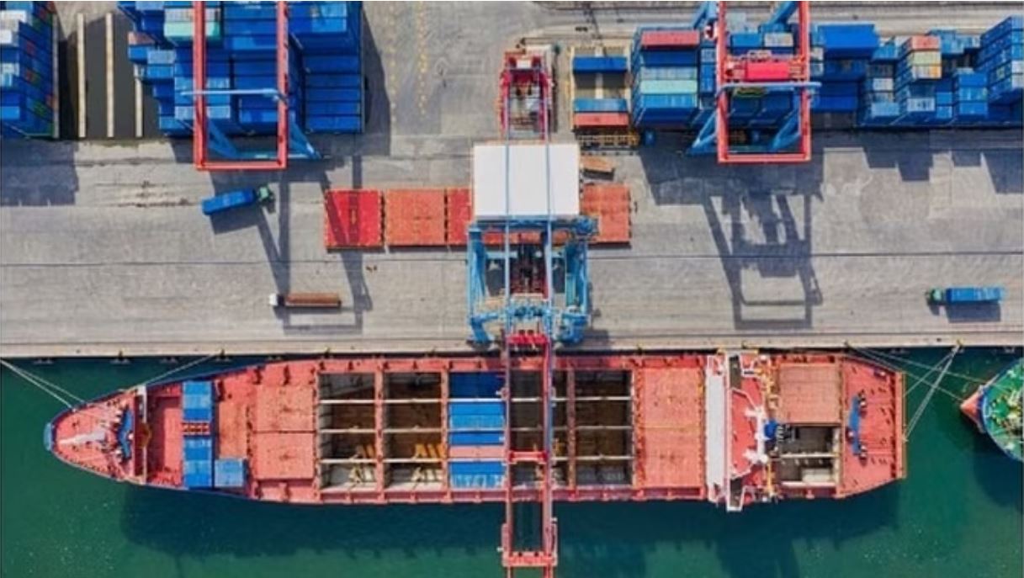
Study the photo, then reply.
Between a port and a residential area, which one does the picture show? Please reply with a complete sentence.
This looks like a port.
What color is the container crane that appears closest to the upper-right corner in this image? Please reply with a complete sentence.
The color of the container crane that appears closest to the upper-right corner is red.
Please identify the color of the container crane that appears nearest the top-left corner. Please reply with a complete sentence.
The color of the container crane that appears nearest the top-left corner is red.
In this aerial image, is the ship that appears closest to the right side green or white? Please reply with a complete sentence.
The ship that appears closest to the right side is green.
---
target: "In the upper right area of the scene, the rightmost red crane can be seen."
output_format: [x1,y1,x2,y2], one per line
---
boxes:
[678,0,821,167]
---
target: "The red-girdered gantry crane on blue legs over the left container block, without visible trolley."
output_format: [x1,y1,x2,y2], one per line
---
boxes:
[183,0,330,173]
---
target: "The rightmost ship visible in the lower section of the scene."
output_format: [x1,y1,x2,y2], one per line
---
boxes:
[964,357,1024,469]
